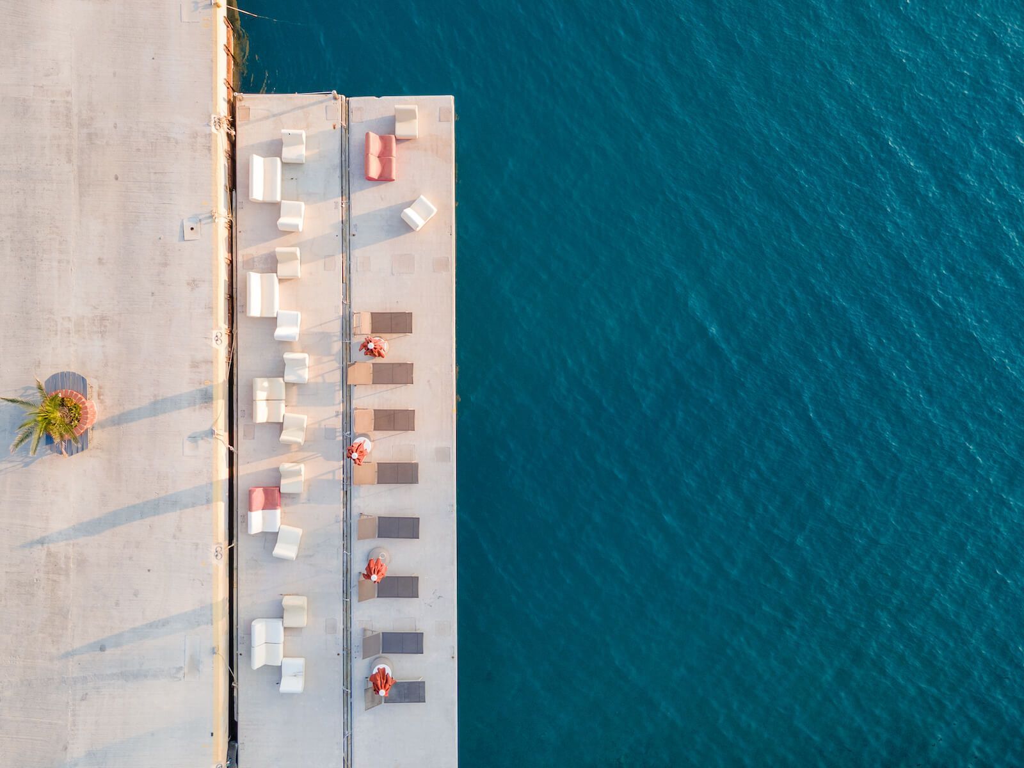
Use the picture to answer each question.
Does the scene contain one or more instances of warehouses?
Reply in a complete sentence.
No, there appears to be no warehouse in this shot.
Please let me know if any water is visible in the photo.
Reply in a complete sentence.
Yes, there is water in the image.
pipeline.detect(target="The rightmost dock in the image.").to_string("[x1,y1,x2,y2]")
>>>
[350,96,458,768]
